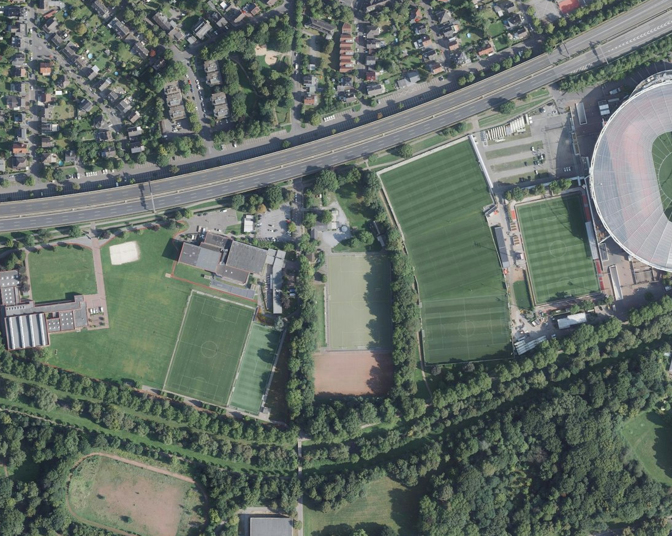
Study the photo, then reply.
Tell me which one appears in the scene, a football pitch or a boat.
football pitch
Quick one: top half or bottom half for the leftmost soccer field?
bottom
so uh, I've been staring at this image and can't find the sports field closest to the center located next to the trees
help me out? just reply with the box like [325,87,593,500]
[325,251,392,351]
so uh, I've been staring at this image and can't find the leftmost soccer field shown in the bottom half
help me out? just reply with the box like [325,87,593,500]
[163,290,255,408]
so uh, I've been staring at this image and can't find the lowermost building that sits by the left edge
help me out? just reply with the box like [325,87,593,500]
[0,270,87,351]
